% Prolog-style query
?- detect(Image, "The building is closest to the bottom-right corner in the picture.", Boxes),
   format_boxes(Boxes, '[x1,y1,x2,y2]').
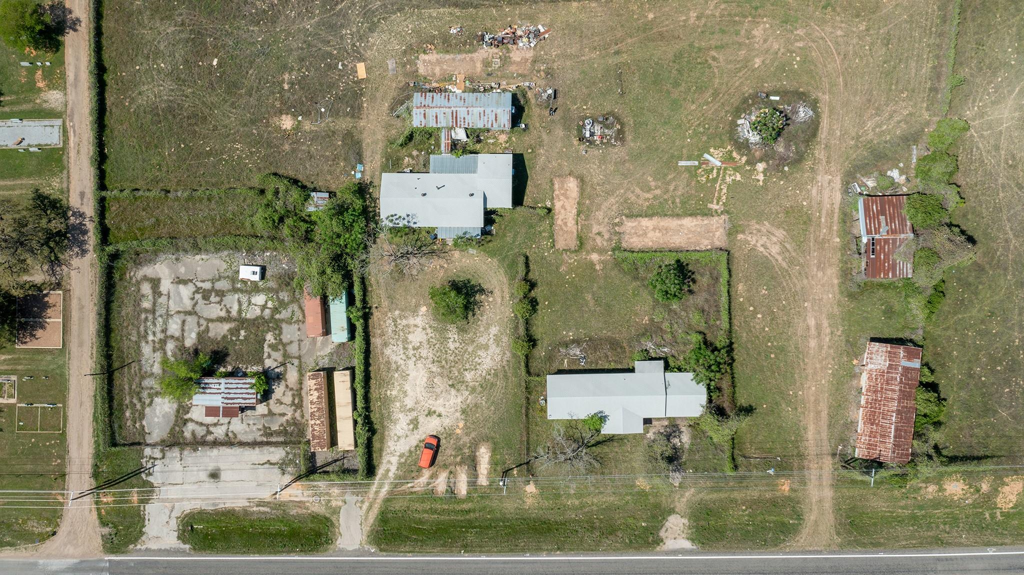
[850,342,922,464]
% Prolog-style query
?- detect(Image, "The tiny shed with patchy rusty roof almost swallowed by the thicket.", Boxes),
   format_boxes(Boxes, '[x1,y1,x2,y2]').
[311,192,331,210]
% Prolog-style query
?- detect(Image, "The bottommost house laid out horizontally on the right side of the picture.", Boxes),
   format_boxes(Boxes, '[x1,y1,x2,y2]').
[546,360,707,434]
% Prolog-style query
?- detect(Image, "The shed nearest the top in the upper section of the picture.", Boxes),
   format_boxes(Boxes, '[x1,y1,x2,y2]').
[413,92,516,131]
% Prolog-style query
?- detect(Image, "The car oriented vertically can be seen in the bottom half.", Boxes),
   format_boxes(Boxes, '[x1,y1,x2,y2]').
[420,434,439,469]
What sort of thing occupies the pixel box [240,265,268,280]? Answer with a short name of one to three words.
camper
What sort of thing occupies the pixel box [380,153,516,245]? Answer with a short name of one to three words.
house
